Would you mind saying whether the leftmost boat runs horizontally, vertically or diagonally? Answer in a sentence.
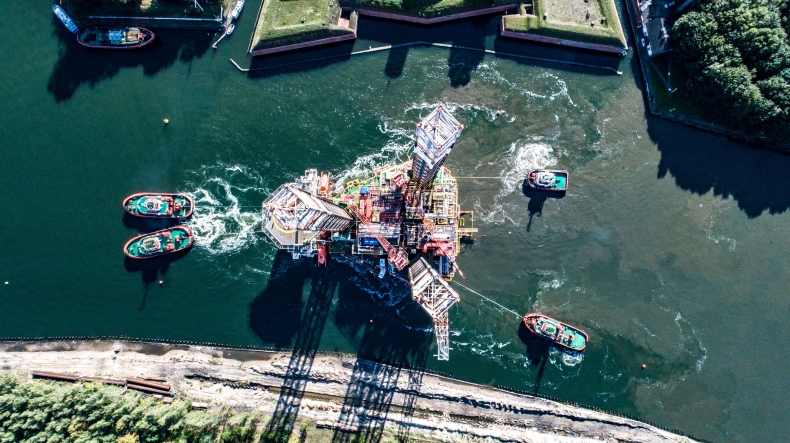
The leftmost boat is laid out diagonally.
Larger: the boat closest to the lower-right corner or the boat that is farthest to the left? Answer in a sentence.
Of the two, the boat closest to the lower-right corner is bigger, while the boat that is farthest to the left is smaller.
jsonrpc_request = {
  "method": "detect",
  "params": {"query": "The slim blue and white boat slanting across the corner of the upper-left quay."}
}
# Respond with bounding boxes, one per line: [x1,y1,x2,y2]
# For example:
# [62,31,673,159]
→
[52,4,79,34]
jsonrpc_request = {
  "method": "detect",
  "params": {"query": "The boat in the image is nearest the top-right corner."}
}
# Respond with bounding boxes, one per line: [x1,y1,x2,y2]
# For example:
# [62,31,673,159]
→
[526,168,569,191]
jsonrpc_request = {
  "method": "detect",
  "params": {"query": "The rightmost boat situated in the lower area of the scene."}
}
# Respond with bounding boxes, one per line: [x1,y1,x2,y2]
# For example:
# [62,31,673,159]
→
[522,311,591,353]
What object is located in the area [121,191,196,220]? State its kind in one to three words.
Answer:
boat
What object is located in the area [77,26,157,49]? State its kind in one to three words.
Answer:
ship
